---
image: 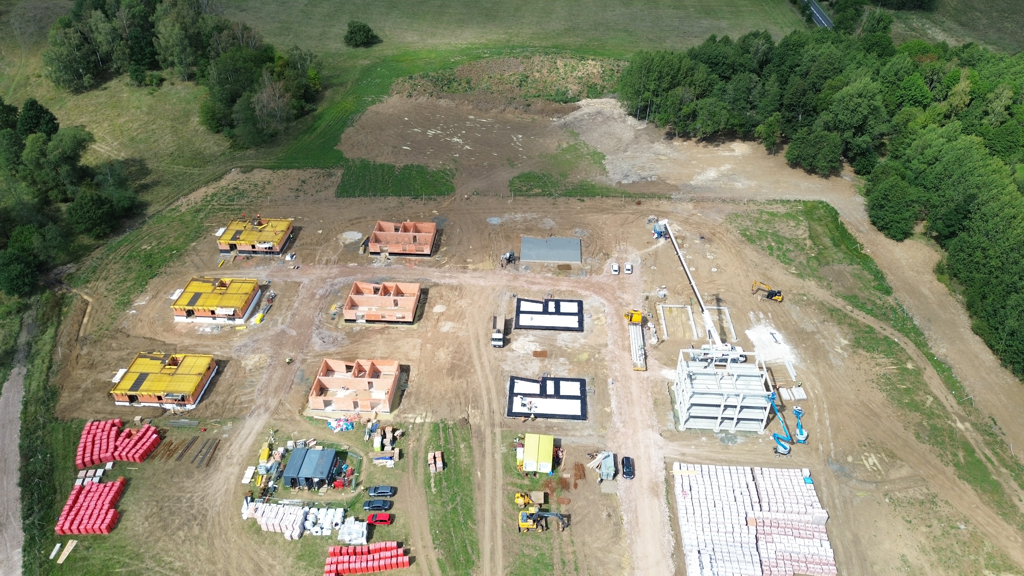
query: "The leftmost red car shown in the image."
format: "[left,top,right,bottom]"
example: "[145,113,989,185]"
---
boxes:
[366,510,394,525]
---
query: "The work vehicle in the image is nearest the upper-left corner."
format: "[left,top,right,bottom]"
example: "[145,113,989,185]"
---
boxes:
[501,250,515,268]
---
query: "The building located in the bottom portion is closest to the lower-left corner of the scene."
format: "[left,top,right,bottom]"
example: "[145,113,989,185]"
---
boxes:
[110,352,217,410]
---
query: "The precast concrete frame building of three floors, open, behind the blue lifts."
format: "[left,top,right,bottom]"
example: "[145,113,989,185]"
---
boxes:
[670,350,771,437]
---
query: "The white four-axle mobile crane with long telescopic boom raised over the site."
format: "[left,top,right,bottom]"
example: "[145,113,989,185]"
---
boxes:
[639,223,756,365]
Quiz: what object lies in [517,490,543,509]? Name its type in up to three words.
vehicle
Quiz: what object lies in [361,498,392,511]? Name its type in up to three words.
vehicle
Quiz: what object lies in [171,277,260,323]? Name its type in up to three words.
house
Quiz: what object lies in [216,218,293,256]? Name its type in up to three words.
house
